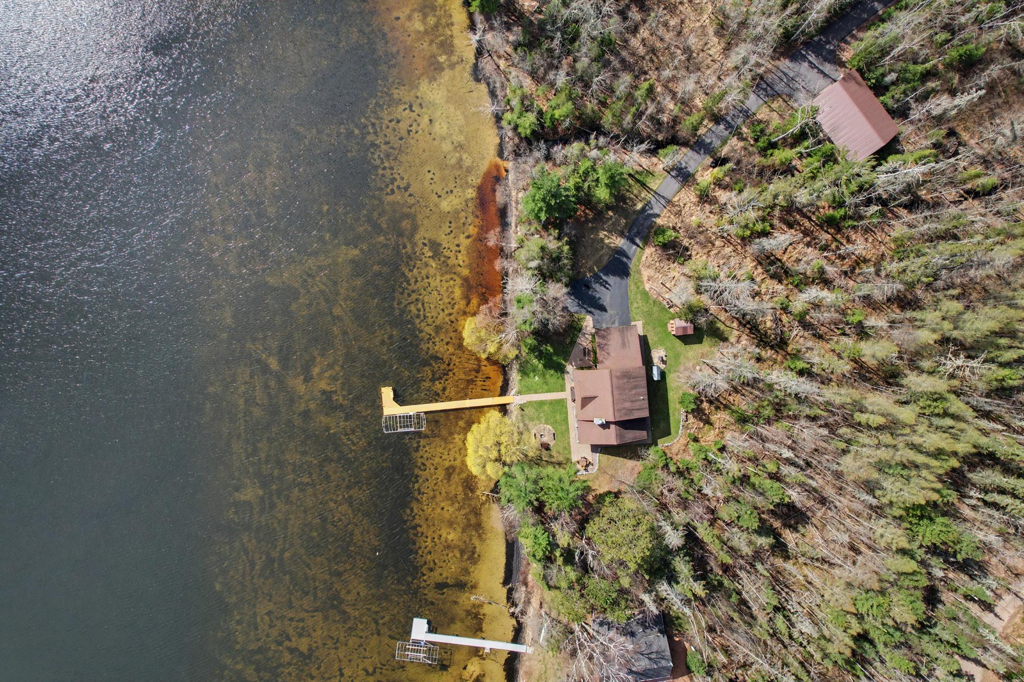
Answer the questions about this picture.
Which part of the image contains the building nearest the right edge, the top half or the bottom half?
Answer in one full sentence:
Seen from above, the building nearest the right edge lies in the top half of the view.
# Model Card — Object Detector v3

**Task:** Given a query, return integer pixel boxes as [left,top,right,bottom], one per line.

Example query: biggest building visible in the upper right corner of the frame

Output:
[809,71,899,163]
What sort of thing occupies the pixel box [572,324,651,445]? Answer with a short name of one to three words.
house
